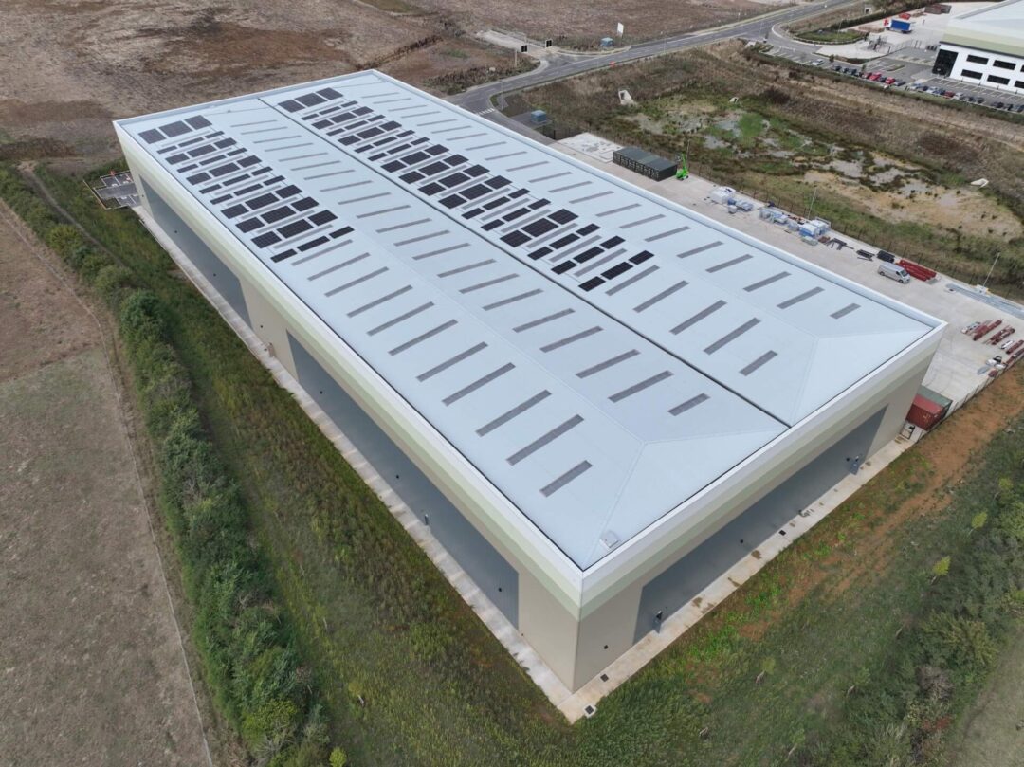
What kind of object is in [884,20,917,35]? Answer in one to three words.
vehicle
